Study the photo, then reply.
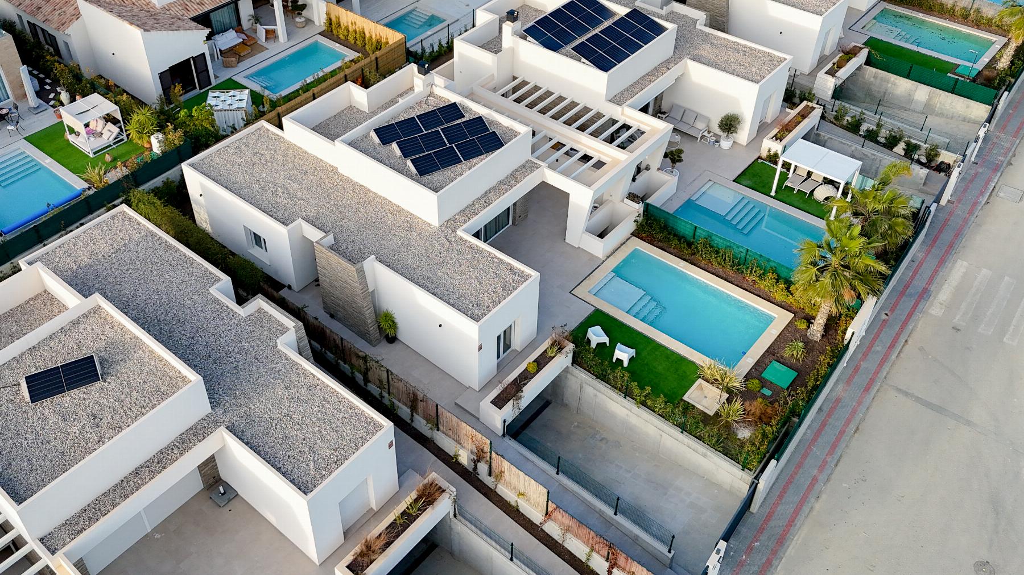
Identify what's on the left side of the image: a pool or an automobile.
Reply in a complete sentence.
The one visible on the left side of the image is a pool.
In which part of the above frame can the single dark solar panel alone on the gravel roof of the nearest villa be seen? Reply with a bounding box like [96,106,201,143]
[22,350,104,405]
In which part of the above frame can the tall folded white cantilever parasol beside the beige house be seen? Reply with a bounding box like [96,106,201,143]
[15,57,47,113]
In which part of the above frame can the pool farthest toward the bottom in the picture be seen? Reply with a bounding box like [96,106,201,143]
[568,235,794,384]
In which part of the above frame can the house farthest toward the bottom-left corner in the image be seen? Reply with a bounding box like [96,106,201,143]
[0,205,400,575]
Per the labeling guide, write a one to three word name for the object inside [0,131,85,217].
swimming pool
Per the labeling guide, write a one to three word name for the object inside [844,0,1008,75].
swimming pool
